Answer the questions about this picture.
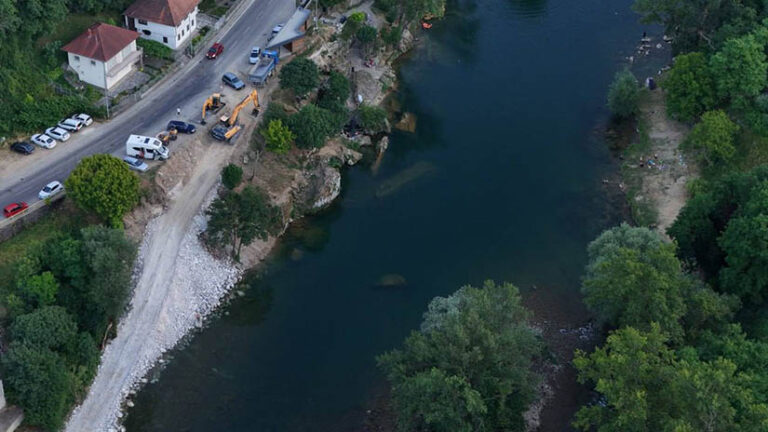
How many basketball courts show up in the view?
0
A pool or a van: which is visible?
van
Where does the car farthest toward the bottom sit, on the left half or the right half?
left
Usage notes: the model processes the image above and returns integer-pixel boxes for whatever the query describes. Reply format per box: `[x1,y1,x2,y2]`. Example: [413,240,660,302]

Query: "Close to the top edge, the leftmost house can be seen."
[59,21,150,87]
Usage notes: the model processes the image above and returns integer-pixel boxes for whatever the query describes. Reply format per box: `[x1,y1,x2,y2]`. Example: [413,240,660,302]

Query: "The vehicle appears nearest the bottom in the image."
[0,195,32,215]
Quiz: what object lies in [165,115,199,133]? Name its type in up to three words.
car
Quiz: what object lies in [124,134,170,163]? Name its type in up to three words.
van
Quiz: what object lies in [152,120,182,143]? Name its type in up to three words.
truck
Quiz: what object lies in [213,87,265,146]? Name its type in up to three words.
work vehicle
